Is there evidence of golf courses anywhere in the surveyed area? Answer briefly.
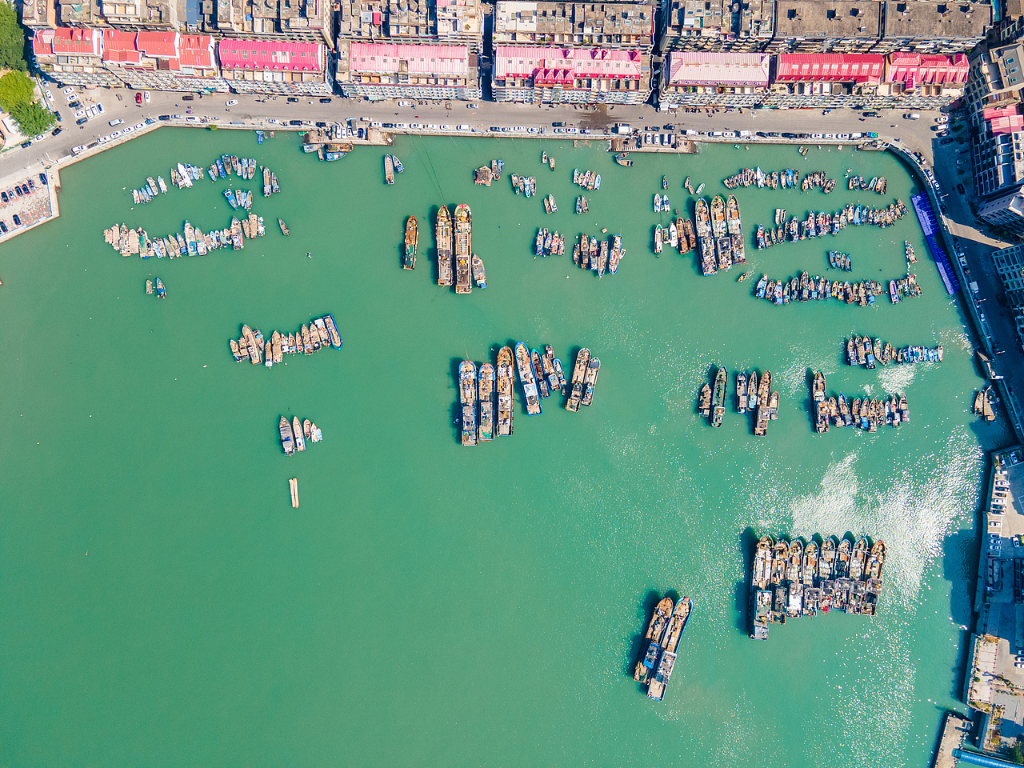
No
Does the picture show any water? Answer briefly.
Yes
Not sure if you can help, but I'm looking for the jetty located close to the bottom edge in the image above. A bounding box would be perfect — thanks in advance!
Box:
[930,714,970,768]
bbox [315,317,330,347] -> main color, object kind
white boat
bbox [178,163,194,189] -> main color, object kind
white boat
